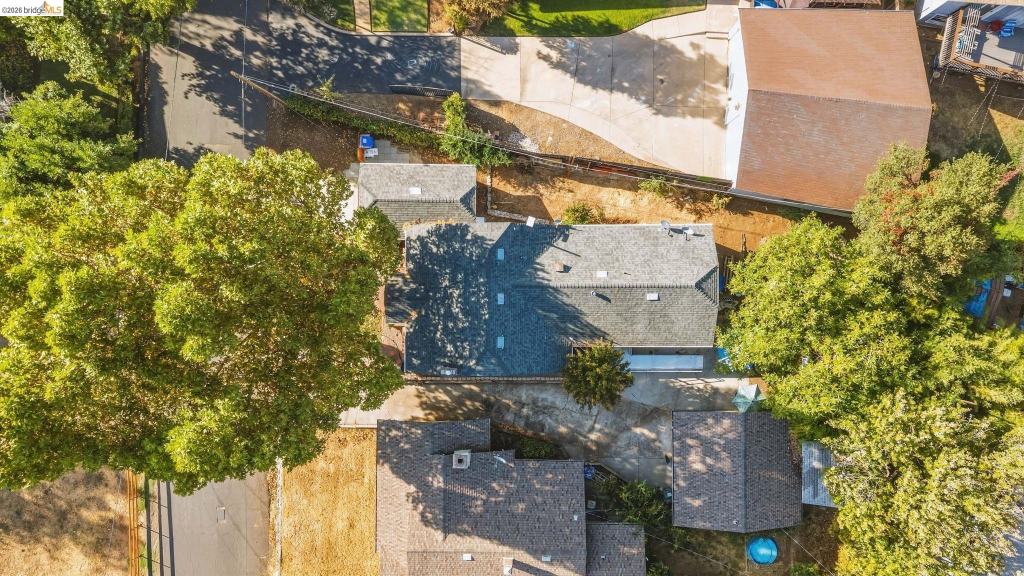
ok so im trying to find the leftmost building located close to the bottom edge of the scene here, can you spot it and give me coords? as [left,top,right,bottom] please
[376,418,647,576]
